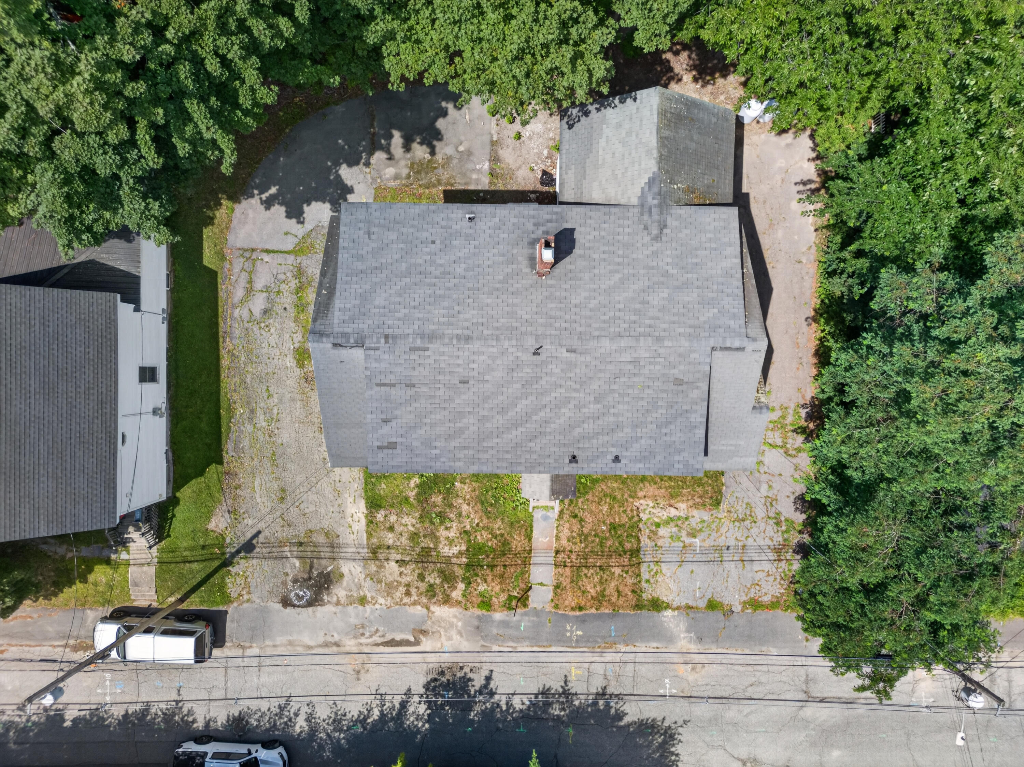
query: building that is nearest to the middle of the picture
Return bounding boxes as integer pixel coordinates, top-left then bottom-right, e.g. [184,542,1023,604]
[308,86,771,512]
